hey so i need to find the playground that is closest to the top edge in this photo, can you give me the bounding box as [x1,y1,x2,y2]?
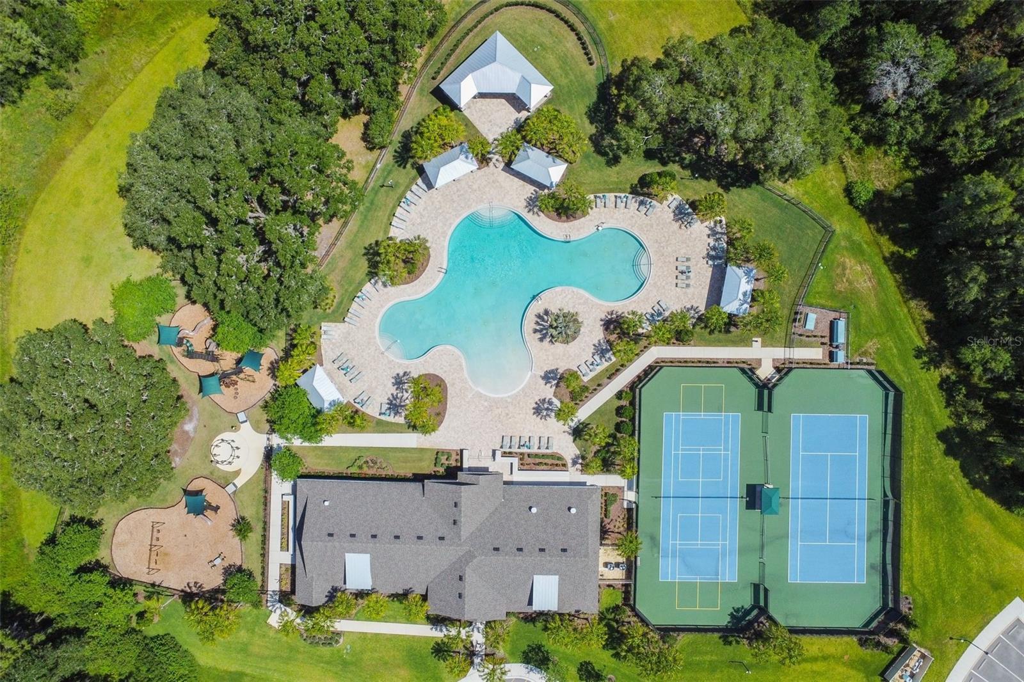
[168,302,279,414]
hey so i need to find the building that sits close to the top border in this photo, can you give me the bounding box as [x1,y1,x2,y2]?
[439,30,554,112]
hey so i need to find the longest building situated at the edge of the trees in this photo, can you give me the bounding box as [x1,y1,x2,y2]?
[295,469,604,623]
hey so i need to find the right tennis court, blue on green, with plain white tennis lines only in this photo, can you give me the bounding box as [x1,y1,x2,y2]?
[764,368,893,628]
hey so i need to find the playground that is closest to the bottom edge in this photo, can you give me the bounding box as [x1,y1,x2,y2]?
[110,476,243,592]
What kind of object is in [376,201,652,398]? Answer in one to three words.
swimming pool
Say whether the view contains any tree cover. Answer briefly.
Yes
